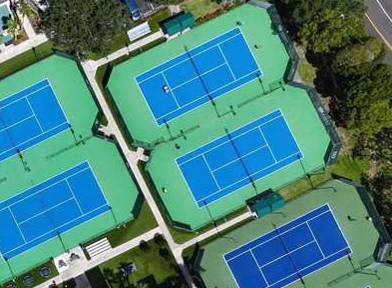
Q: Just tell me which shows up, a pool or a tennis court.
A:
tennis court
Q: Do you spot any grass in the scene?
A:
Yes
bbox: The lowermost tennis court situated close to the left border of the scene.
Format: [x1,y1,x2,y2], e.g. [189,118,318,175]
[0,133,144,281]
